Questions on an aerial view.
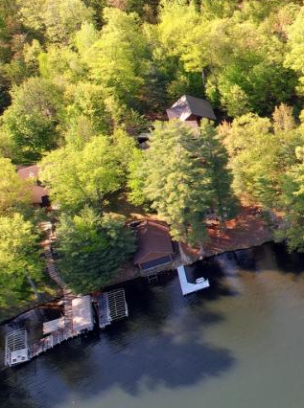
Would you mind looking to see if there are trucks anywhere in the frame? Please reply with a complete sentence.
No, there's no truck here.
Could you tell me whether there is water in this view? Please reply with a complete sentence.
Yes, there's water in this view.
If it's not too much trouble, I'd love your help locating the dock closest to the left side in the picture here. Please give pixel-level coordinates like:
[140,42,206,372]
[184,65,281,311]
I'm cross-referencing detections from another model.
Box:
[29,288,96,361]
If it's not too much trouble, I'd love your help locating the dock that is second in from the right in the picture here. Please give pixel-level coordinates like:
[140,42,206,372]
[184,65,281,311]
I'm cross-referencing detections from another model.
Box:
[97,290,114,329]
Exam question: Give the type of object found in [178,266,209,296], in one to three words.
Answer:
pier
